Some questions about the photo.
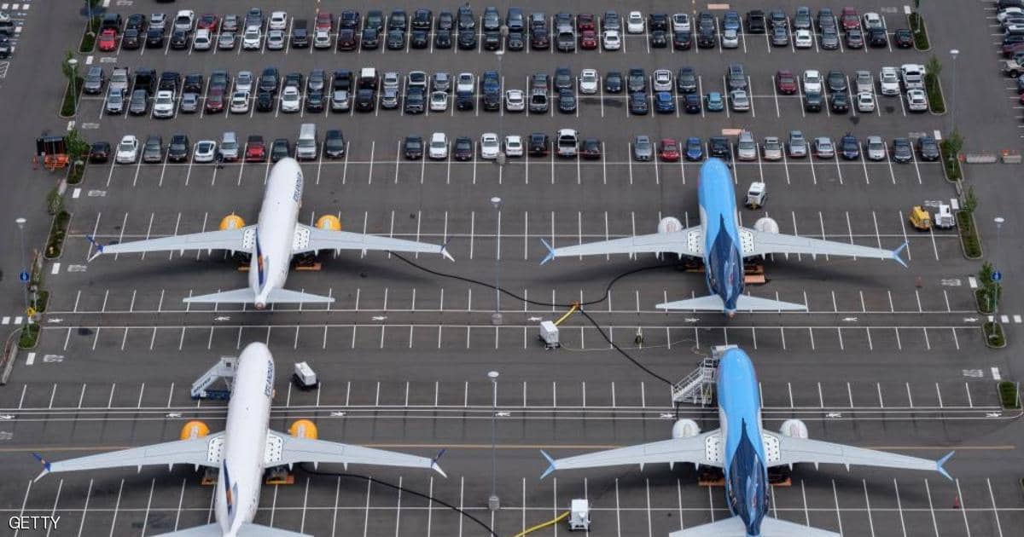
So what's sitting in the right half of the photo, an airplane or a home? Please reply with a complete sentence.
Looking in the right half of the photo, you will find an airplane.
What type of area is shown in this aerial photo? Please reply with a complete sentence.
What you see here is a parking lot.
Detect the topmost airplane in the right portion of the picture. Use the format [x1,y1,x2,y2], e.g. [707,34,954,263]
[540,157,909,318]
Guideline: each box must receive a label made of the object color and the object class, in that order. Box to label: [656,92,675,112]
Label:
blue car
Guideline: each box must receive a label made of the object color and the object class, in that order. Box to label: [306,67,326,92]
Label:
gray vehicle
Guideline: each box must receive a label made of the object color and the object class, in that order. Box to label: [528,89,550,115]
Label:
gray truck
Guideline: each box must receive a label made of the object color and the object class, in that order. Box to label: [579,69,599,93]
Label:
white car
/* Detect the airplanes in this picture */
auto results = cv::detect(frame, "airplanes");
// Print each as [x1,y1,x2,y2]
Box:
[541,348,956,537]
[86,157,454,310]
[540,157,909,318]
[31,341,446,537]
